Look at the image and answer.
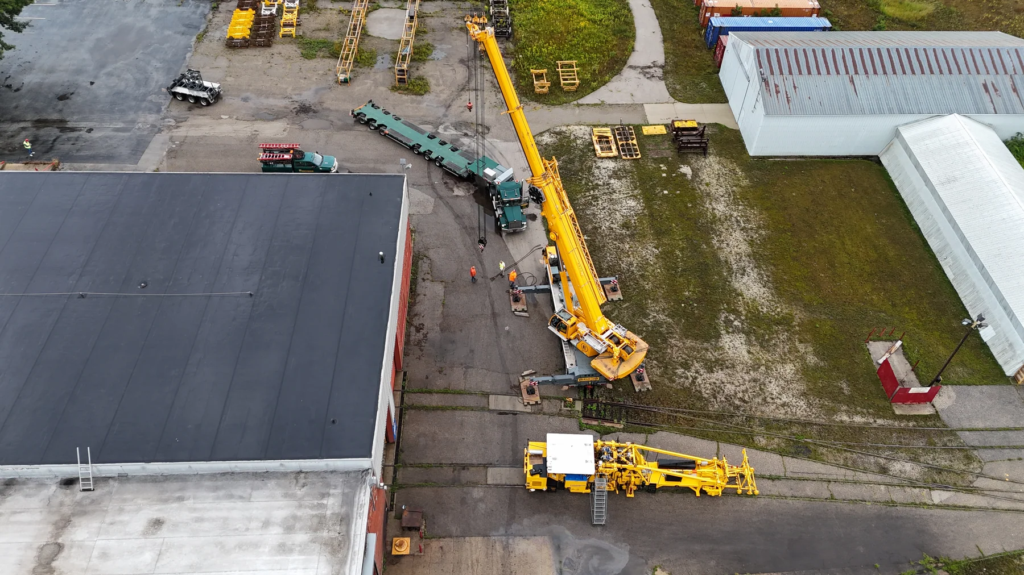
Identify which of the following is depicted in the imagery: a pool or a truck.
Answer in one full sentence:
There is a truck in the scene.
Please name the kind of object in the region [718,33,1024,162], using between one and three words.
shed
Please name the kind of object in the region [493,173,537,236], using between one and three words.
truck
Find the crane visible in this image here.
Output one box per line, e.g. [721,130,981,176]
[463,19,647,394]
